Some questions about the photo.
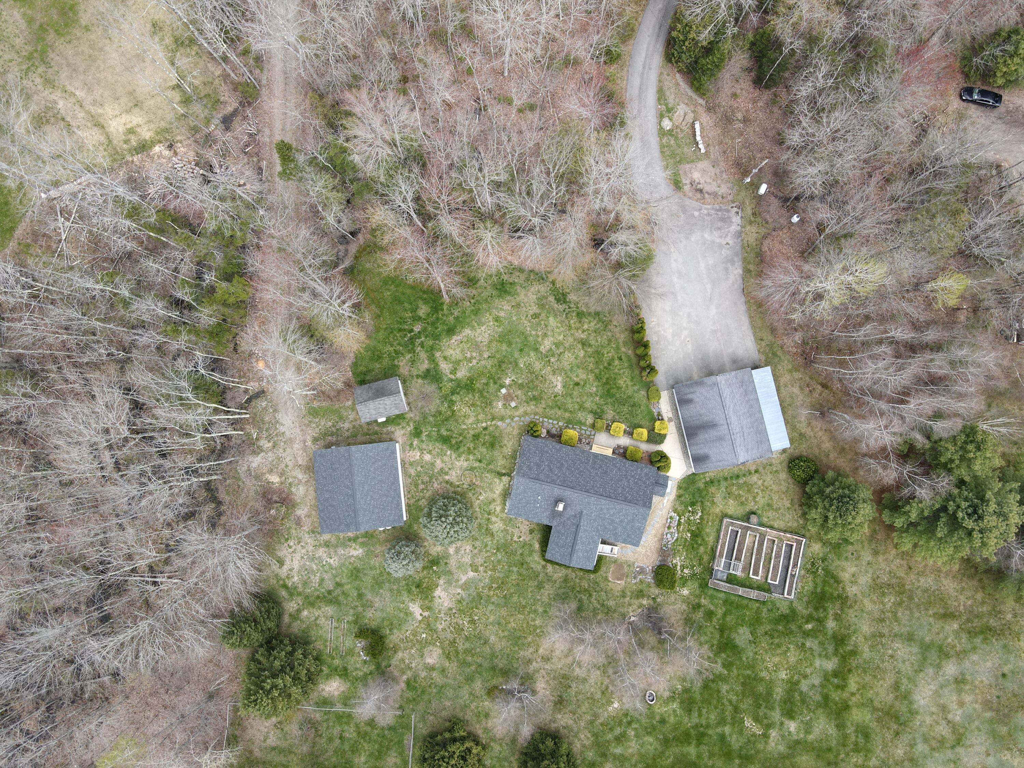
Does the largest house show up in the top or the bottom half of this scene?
bottom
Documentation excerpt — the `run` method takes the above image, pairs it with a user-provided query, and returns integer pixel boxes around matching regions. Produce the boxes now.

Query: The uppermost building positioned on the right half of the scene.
[673,365,789,474]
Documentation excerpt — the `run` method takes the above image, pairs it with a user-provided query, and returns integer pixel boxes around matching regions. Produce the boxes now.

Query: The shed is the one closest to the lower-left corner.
[313,441,407,534]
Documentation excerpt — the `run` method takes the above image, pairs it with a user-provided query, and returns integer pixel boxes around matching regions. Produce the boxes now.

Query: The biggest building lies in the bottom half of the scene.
[507,435,669,570]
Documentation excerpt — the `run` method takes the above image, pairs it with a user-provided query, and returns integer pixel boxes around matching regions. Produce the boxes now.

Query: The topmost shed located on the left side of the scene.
[353,377,408,422]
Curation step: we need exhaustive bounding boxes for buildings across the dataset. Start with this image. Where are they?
[673,365,789,474]
[313,441,407,534]
[353,377,408,422]
[507,435,669,570]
